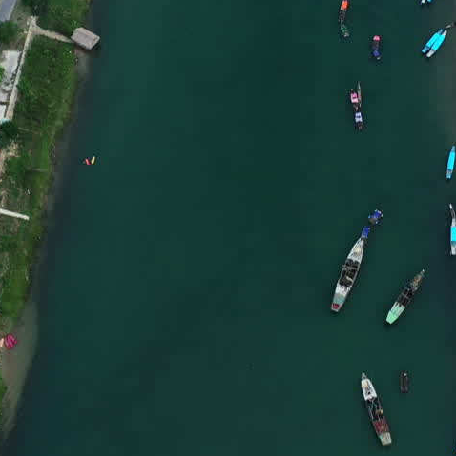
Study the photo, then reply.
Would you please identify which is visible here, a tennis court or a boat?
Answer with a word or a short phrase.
boat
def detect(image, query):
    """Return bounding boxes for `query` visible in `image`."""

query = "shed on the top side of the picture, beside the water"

[70,27,102,55]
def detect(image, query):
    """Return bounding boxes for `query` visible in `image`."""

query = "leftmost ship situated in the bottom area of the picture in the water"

[330,236,364,313]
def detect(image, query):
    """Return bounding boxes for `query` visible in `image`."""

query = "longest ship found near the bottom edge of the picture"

[363,371,392,446]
